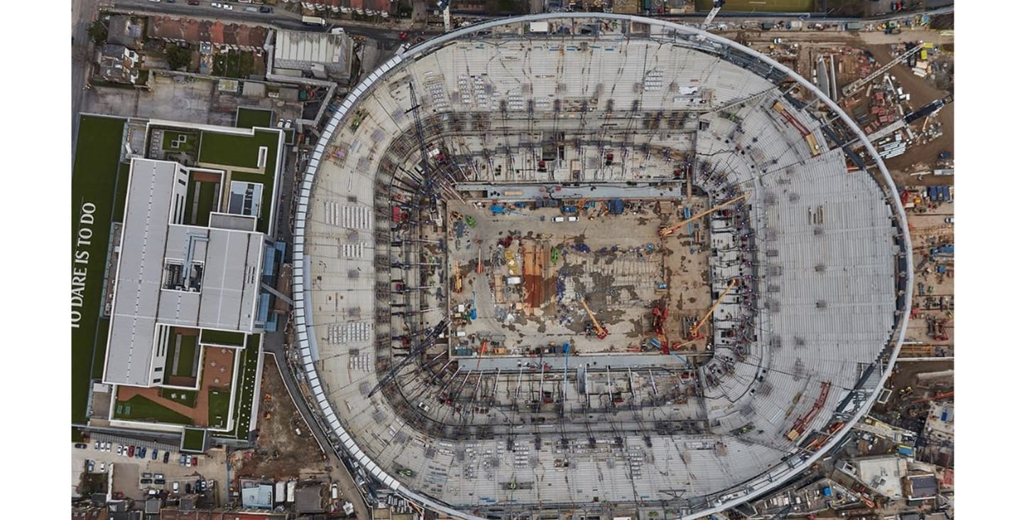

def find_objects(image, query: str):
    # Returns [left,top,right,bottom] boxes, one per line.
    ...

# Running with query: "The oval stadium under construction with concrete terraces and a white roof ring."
[292,11,915,520]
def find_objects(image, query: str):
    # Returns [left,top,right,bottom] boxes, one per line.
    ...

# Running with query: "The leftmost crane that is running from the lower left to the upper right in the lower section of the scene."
[368,309,462,396]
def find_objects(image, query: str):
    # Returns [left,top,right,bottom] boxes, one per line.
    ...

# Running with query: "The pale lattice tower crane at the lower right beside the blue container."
[842,417,920,463]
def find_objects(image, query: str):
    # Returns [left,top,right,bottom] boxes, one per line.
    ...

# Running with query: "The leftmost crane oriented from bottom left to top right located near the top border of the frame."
[686,0,725,43]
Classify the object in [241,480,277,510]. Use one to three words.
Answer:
building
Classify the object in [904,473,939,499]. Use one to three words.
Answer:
house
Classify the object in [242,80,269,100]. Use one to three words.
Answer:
shed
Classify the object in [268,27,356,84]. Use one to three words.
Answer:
building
